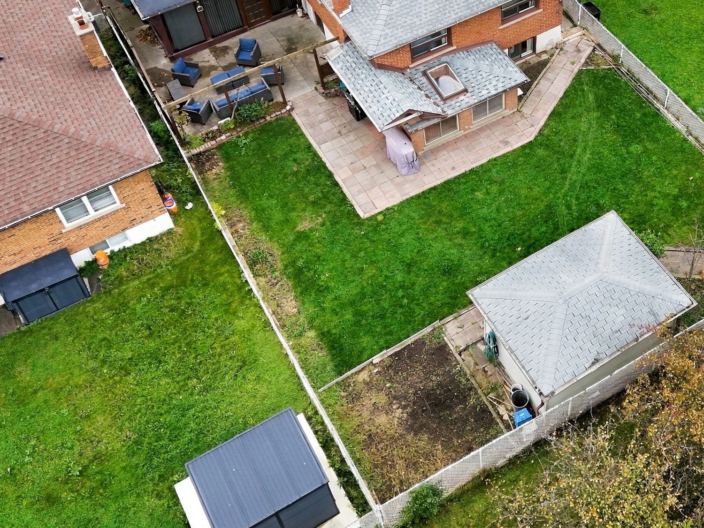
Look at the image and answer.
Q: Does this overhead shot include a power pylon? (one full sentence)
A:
No, this view has no power pylon in it.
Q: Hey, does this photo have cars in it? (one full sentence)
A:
No, no car is visible in the view.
